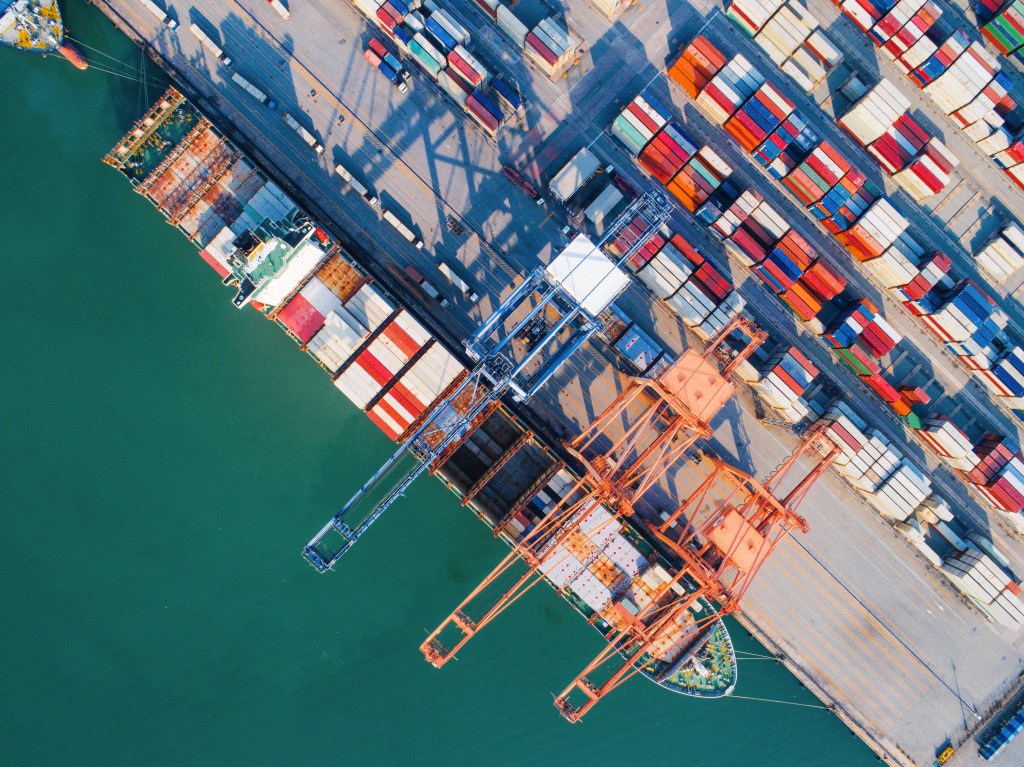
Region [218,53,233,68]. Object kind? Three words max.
vehicle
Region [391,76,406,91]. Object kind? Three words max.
vehicle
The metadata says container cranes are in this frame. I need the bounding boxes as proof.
[301,192,670,573]
[416,312,765,670]
[551,425,840,725]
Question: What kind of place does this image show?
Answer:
port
